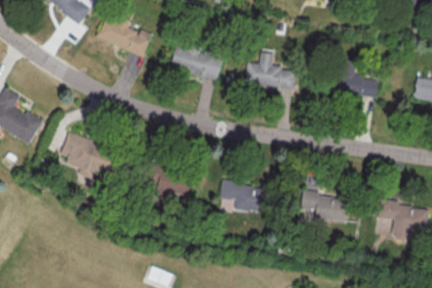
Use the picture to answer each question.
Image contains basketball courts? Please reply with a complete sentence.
No, I find no basketball court anywhere in the image.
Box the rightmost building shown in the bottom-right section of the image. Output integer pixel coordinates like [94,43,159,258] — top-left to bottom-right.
[376,200,430,244]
